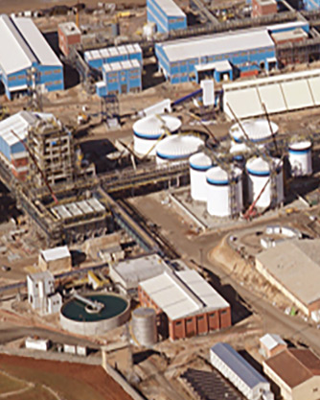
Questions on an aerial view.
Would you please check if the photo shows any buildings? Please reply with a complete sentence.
Yes, looking at the shot, I can spot a building.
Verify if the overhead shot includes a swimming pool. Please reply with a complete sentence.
No, there appears to be no swimming pool in this shot.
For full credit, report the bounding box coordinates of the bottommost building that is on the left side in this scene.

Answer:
[98,335,134,366]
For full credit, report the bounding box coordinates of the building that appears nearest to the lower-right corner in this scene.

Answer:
[267,350,320,400]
